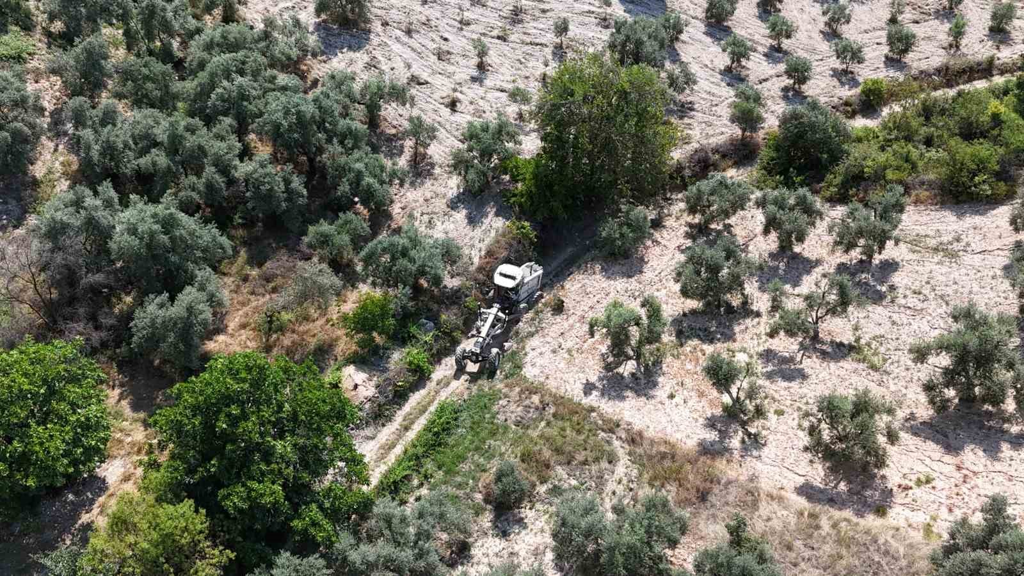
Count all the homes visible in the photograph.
0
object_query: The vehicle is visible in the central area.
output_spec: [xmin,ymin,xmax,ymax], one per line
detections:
[456,260,552,376]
